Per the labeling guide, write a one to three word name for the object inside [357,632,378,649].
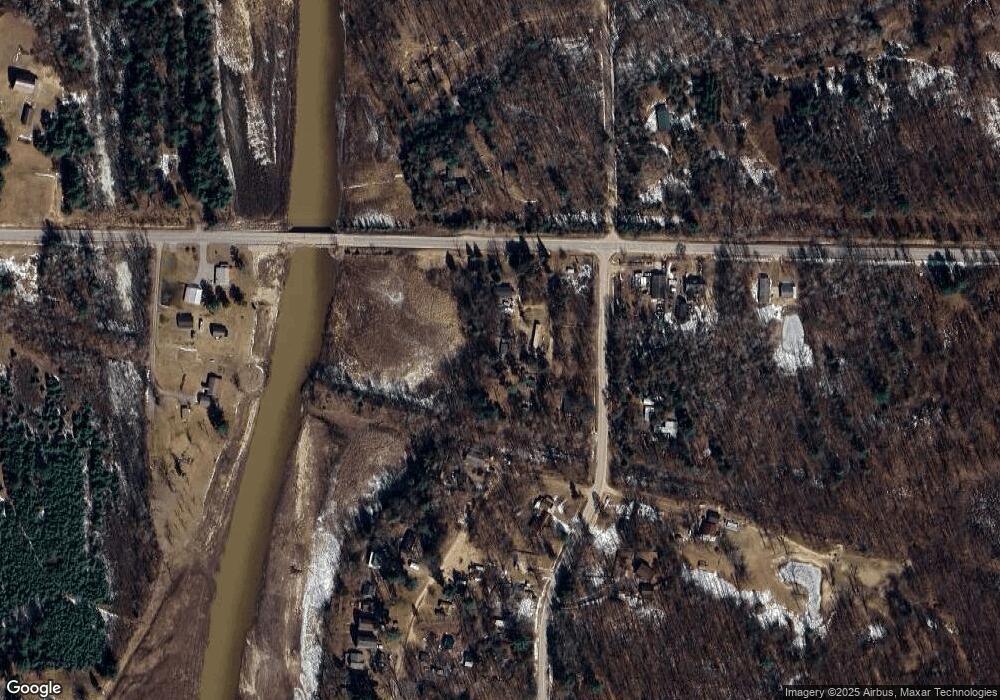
house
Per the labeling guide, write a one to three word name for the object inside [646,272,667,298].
house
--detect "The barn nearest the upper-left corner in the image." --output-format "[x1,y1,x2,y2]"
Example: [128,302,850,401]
[12,72,36,91]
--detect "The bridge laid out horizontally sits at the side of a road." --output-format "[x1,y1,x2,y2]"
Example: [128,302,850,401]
[285,230,340,248]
